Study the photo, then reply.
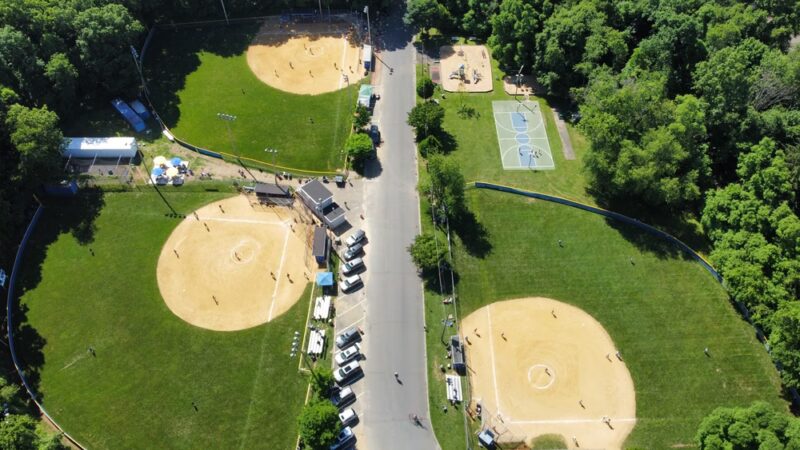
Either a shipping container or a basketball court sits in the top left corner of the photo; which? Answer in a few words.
shipping container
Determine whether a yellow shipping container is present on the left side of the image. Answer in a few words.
No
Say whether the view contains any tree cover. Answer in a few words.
Yes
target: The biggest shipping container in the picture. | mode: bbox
[111,98,148,138]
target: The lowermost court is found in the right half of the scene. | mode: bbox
[493,101,553,170]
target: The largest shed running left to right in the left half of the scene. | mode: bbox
[61,138,141,159]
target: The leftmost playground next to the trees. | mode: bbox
[440,45,493,92]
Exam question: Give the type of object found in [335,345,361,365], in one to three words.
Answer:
car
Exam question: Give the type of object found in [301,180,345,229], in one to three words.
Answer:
building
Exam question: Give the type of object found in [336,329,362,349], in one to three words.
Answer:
car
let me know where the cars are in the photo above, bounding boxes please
[335,345,361,365]
[330,427,358,450]
[331,387,359,409]
[334,362,360,383]
[336,329,362,349]
[370,123,380,141]
[342,242,365,260]
[335,406,360,428]
[341,256,365,275]
[344,230,367,247]
[334,442,355,450]
[339,275,362,292]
